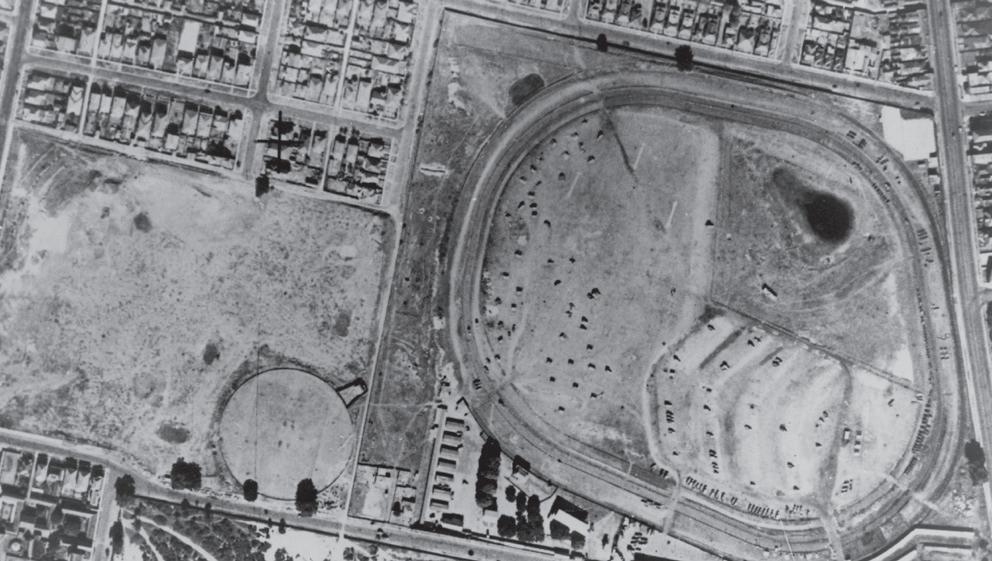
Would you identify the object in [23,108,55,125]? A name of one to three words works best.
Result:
house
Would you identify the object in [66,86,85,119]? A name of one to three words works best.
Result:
house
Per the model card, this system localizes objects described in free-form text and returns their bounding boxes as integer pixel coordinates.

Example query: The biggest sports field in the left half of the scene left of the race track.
[220,366,354,500]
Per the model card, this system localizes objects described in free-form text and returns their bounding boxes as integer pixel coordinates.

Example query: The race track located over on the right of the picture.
[435,69,968,561]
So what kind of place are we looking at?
sports ground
